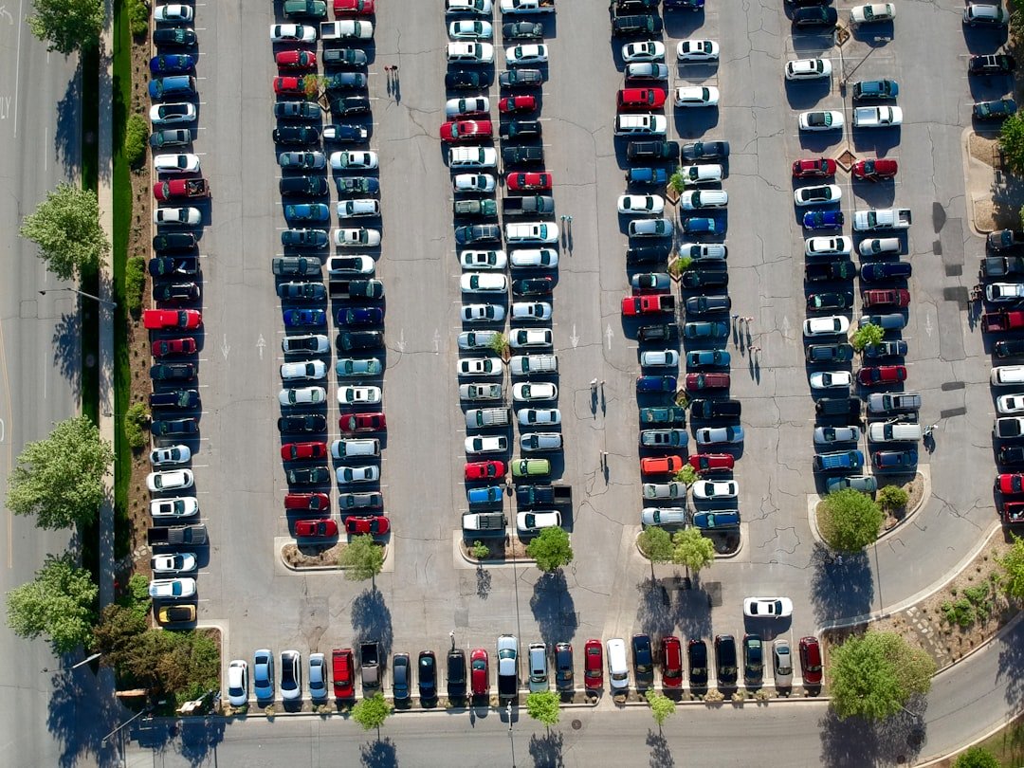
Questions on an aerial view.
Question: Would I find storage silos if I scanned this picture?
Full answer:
No, no storage silo can be seen from above.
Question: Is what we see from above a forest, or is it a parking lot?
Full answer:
This looks like a parking lot.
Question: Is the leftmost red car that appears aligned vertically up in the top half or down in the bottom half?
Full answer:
The leftmost red car that appears aligned vertically is in the bottom half of the image.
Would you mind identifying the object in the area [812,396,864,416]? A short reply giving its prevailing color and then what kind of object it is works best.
black vehicle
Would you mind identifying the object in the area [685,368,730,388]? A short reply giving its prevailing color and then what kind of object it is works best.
red car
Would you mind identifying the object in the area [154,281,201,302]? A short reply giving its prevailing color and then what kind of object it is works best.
black car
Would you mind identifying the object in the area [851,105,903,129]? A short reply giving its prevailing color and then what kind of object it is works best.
white truck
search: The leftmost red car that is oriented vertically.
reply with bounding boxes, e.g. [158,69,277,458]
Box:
[332,648,354,697]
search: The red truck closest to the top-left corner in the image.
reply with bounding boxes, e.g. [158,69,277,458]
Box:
[153,177,211,201]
